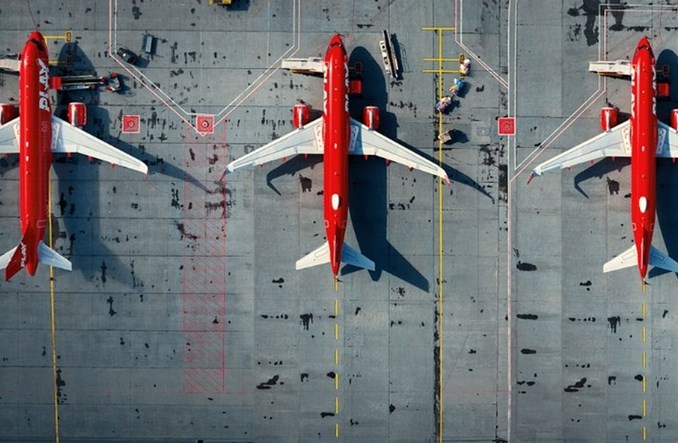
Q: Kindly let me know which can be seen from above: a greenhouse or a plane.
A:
plane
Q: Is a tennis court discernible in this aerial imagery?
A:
No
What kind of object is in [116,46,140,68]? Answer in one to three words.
car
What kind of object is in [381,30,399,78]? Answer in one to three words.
work vehicle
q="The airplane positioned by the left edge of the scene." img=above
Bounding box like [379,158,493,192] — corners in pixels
[0,32,146,281]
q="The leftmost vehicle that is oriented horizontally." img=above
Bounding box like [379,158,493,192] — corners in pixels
[58,74,106,89]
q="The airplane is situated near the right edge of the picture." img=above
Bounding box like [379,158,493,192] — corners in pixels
[532,37,678,286]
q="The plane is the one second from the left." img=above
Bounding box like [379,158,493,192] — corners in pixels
[217,34,451,282]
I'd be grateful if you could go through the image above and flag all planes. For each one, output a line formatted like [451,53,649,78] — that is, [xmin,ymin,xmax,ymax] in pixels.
[217,34,451,282]
[532,37,678,286]
[0,32,146,281]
